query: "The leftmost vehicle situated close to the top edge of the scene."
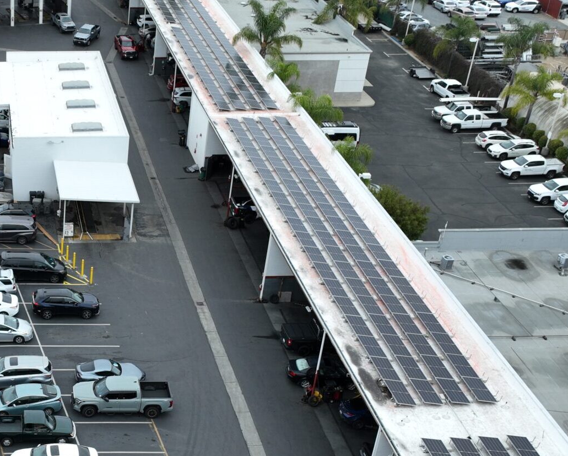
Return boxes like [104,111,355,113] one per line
[50,8,75,29]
